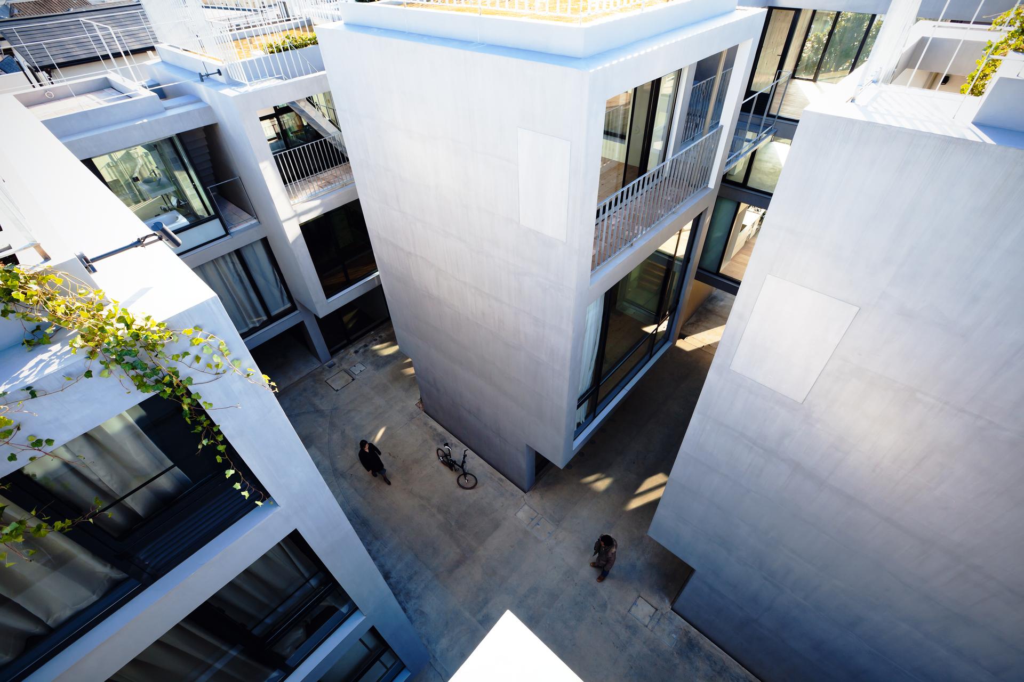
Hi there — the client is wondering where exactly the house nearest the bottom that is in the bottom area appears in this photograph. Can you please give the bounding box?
[451,613,578,682]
